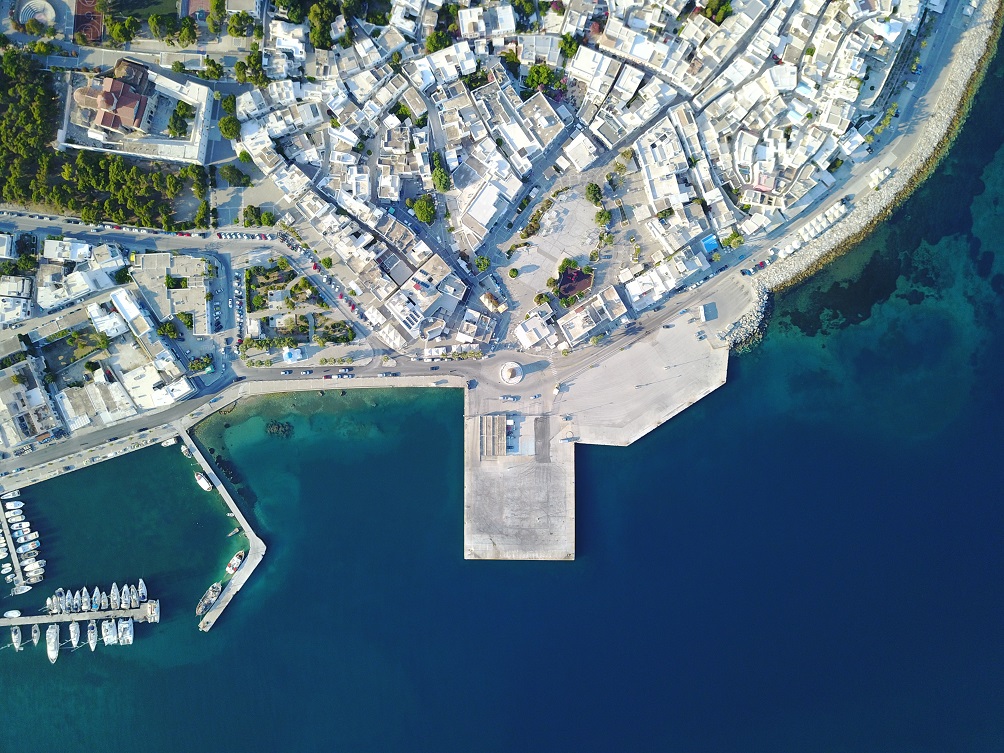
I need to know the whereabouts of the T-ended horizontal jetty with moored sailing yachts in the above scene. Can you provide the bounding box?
[0,601,159,626]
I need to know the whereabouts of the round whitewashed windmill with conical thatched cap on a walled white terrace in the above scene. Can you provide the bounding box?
[500,361,524,384]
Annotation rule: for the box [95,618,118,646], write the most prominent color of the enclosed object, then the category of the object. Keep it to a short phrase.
white boat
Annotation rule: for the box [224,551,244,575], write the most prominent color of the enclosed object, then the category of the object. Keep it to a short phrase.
white boat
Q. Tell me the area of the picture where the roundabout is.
center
